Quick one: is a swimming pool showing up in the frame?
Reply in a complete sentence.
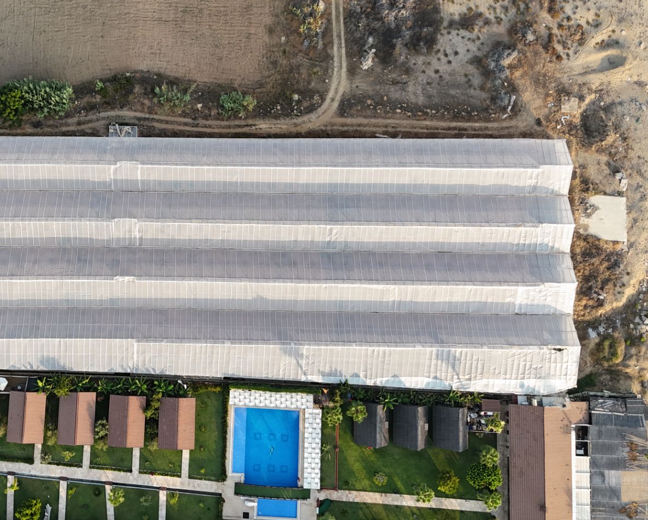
Yes, the picture does show a swimming pool.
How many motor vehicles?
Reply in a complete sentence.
There are no motor vehicles in the image.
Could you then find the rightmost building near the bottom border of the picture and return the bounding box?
[505,402,590,520]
